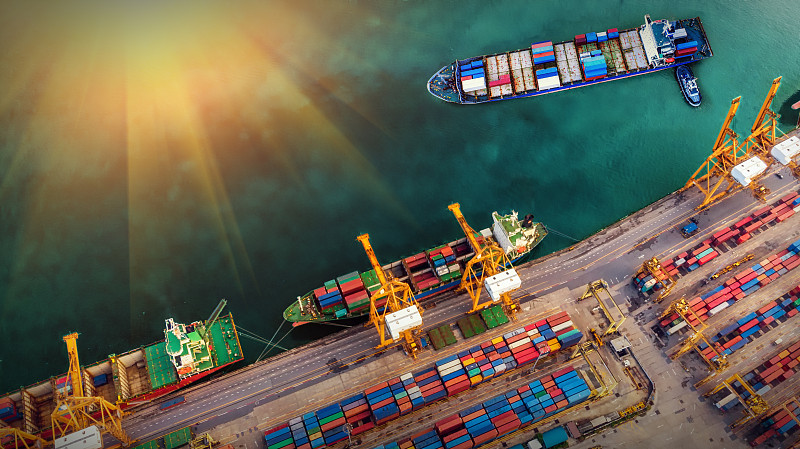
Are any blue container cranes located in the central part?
No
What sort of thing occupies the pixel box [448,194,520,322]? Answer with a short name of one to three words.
container crane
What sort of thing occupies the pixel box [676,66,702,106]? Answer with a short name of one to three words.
boat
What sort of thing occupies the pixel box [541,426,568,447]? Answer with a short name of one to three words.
shed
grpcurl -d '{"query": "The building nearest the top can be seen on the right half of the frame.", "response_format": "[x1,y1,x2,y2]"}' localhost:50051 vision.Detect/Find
[608,333,634,360]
